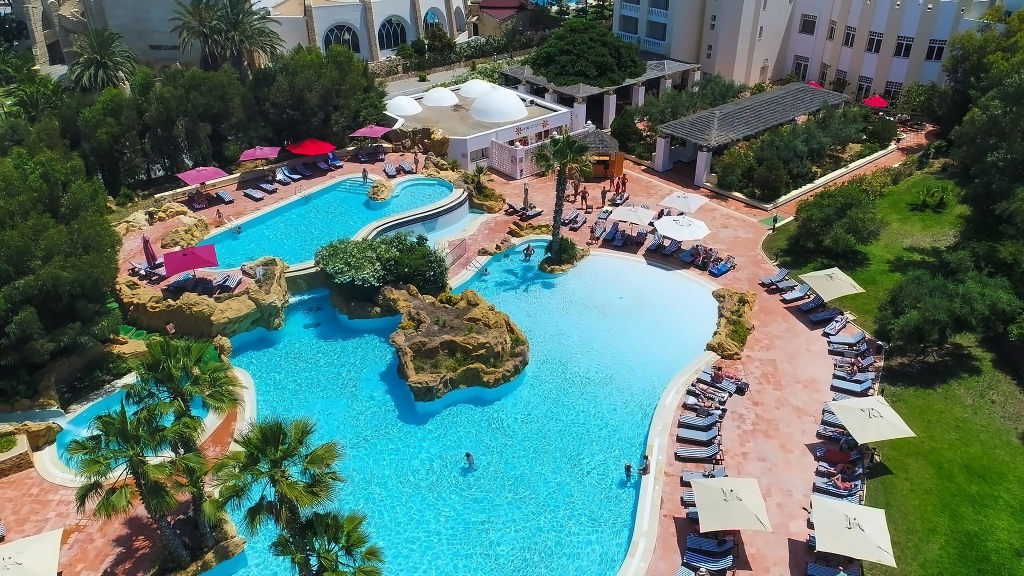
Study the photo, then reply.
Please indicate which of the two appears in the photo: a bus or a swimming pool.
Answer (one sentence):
It is a swimming pool that can be seen here.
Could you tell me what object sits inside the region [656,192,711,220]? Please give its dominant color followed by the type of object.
white umbrella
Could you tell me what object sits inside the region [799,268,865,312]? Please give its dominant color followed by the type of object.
white umbrella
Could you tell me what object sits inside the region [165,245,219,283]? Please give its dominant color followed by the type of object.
pink umbrella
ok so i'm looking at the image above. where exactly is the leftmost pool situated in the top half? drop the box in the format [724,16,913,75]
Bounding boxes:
[204,178,455,269]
